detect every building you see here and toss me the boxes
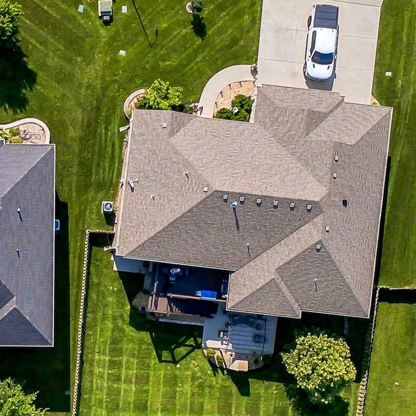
[100,82,396,320]
[0,140,56,348]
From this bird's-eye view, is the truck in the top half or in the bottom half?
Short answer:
top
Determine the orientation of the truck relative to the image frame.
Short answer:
vertically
